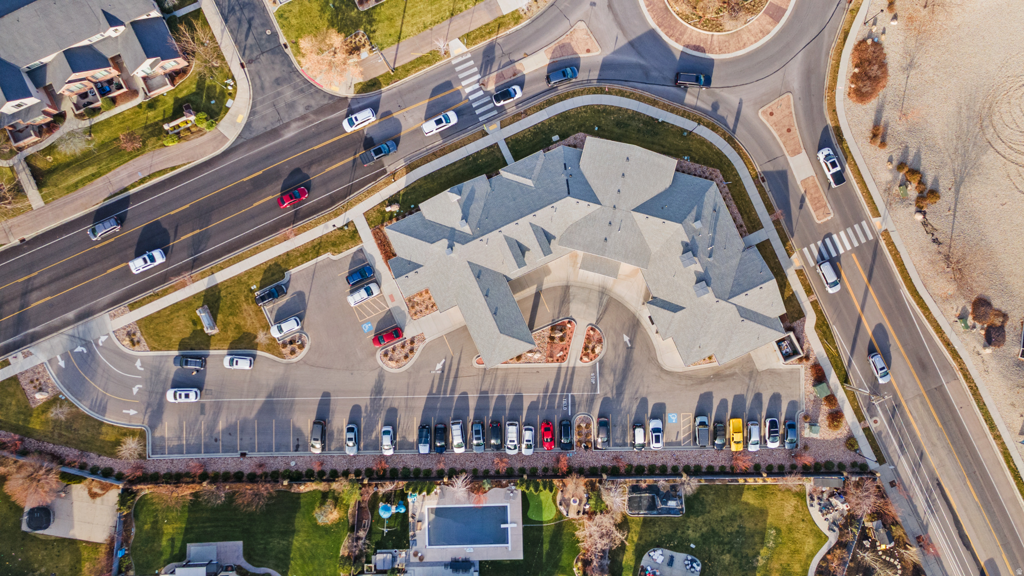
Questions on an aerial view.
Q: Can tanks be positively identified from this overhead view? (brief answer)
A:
No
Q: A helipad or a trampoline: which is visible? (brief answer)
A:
trampoline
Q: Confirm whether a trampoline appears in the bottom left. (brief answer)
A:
Yes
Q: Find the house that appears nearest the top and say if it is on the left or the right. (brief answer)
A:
left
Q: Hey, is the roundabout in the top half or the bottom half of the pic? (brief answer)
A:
top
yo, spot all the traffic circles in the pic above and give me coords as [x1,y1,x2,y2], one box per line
[639,0,795,58]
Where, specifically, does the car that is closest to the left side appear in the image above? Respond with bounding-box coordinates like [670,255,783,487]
[88,217,123,238]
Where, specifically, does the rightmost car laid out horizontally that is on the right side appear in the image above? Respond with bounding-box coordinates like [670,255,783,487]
[675,71,710,88]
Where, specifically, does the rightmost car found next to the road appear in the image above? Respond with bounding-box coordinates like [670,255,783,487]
[867,352,890,383]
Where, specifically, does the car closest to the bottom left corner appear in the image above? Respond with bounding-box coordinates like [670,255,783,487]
[166,388,200,403]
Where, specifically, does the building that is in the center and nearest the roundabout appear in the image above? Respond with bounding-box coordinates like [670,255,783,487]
[387,134,786,370]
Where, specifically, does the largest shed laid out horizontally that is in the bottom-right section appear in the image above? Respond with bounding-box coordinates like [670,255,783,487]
[809,474,844,488]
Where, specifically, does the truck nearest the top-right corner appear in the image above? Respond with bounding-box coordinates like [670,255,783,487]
[818,147,846,188]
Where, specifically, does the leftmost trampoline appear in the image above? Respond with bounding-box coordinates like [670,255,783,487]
[19,506,54,535]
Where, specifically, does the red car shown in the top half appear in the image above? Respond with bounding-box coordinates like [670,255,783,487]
[276,188,309,209]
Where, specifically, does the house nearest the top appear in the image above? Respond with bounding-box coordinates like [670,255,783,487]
[0,0,183,143]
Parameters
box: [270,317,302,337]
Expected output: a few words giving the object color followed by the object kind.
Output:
white car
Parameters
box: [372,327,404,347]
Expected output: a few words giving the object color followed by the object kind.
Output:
red car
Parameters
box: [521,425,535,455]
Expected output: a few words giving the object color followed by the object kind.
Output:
white car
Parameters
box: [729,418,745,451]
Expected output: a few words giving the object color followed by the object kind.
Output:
yellow vehicle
